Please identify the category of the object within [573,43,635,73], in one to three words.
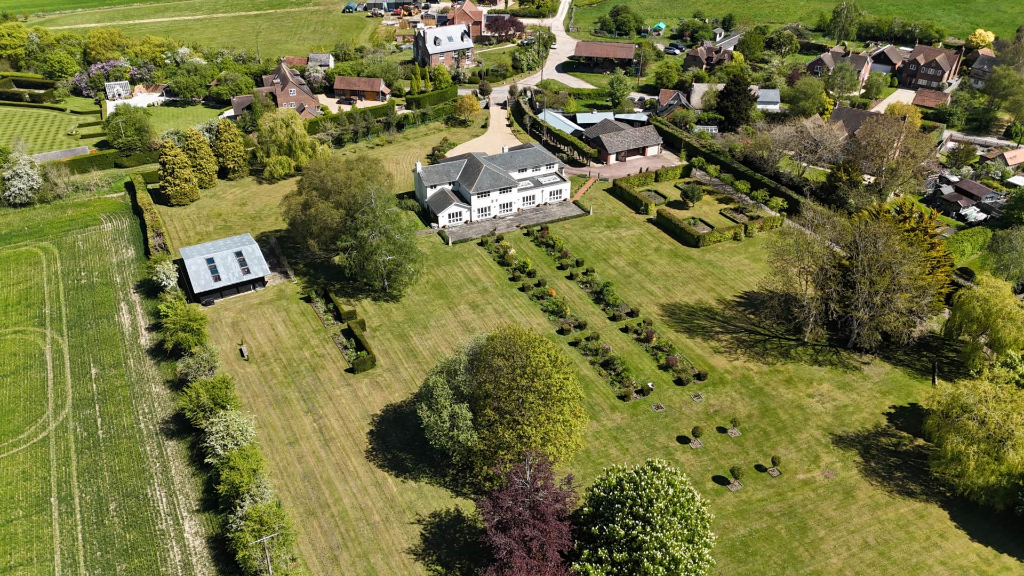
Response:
barn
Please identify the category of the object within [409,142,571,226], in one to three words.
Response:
house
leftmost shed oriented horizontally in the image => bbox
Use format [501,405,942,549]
[30,142,89,170]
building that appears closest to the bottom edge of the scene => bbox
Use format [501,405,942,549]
[176,233,272,304]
